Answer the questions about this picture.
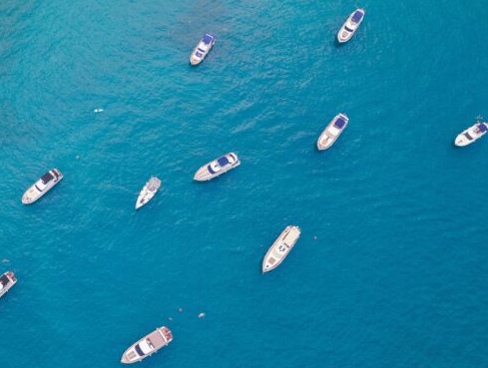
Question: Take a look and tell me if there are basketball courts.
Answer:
No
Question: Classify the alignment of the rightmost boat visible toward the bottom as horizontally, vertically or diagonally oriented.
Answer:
diagonally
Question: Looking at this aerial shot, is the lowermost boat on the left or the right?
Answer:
left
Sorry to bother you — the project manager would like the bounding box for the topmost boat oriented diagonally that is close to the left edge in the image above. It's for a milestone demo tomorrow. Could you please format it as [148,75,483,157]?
[22,169,63,205]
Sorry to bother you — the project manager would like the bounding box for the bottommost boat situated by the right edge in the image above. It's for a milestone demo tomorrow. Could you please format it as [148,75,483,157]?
[454,121,488,146]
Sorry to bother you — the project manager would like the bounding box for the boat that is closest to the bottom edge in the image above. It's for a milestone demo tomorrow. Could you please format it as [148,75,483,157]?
[120,326,172,363]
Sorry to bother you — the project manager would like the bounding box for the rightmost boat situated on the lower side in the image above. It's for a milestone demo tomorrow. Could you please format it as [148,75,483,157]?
[261,224,300,275]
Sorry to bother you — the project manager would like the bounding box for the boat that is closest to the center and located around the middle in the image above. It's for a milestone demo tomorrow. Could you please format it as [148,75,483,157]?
[192,154,240,182]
